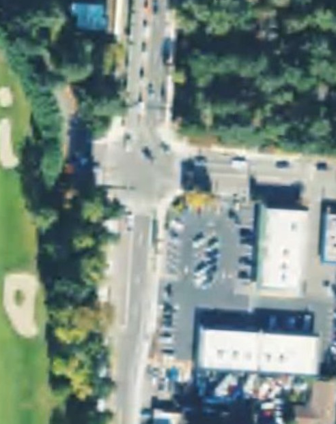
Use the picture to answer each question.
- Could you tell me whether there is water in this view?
No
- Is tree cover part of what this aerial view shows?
Yes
